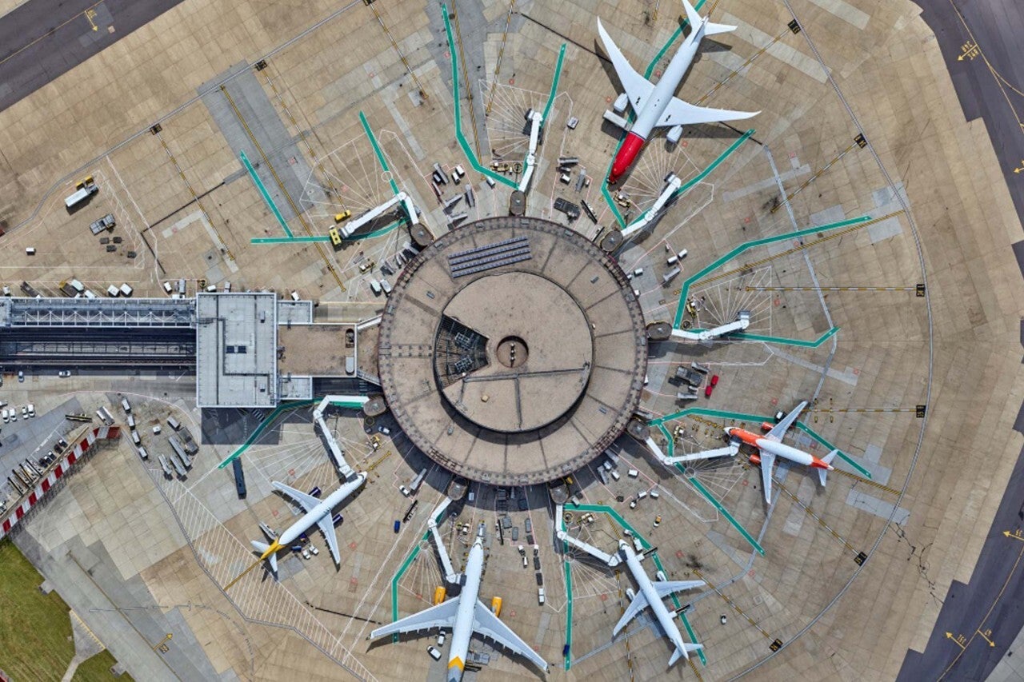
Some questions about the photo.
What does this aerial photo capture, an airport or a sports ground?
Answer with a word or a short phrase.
airport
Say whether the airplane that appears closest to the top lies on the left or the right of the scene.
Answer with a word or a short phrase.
right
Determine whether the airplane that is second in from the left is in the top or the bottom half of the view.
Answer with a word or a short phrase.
bottom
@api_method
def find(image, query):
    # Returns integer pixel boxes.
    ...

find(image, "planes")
[372,538,547,682]
[615,540,706,669]
[249,473,366,572]
[725,403,840,506]
[600,0,760,183]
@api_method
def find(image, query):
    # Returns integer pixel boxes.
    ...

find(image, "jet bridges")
[511,109,542,217]
[625,419,743,467]
[312,393,388,486]
[645,309,751,342]
[336,190,434,249]
[599,168,683,254]
[549,476,628,567]
[428,476,469,588]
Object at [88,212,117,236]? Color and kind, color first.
gray work vehicle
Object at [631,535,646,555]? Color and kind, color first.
white vehicle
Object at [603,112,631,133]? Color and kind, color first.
white truck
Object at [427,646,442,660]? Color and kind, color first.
white vehicle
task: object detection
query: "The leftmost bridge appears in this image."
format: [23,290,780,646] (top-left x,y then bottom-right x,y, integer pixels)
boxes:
[0,328,196,365]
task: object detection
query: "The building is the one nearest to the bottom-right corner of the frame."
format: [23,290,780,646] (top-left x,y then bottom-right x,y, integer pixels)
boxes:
[378,217,647,485]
